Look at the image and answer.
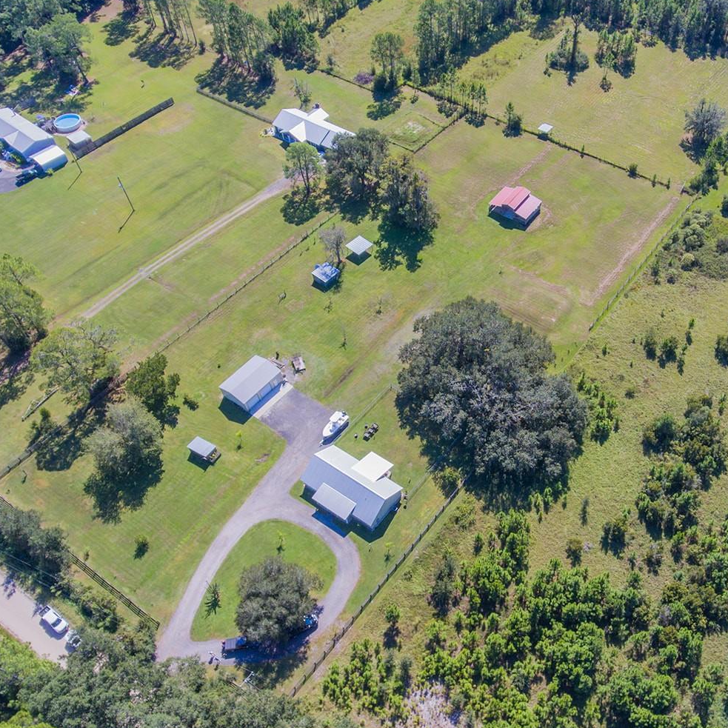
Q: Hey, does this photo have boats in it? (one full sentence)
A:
Yes, this view includes a boat.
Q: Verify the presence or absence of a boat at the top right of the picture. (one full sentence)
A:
No, I see no boat at the top right of the picture.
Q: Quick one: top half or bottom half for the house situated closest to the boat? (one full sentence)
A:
The house situated closest to the boat is in the bottom half of the image.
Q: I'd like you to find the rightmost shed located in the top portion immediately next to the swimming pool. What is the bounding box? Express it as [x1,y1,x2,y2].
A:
[59,128,95,156]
